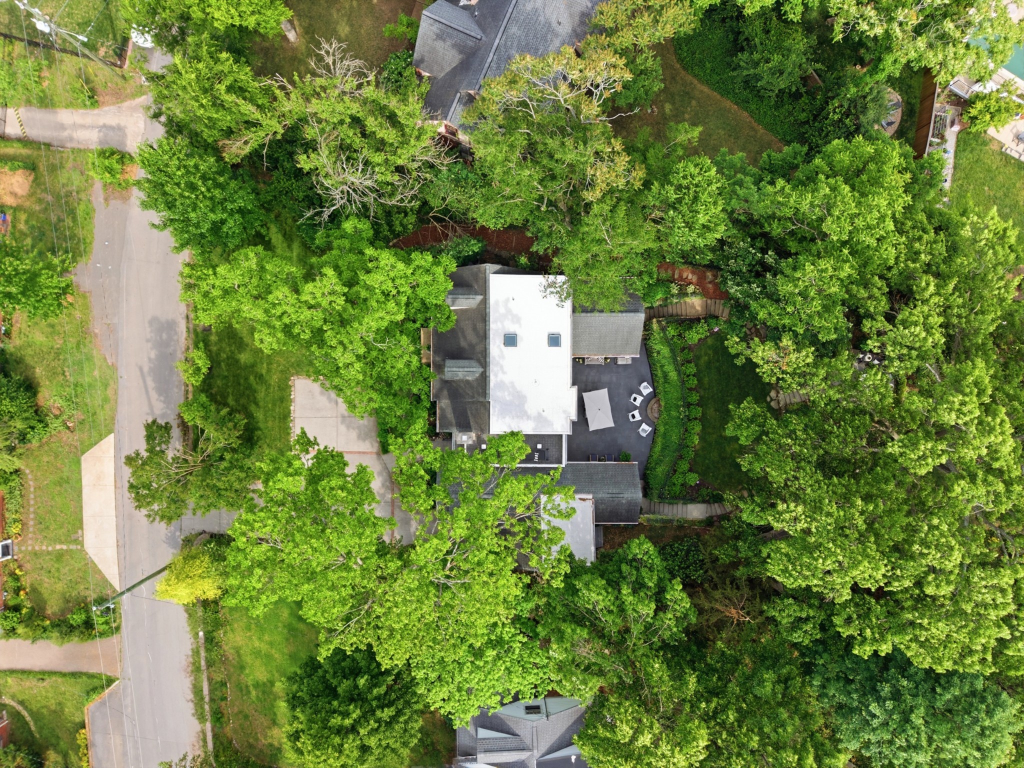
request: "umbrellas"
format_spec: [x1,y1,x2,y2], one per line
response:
[582,388,614,431]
